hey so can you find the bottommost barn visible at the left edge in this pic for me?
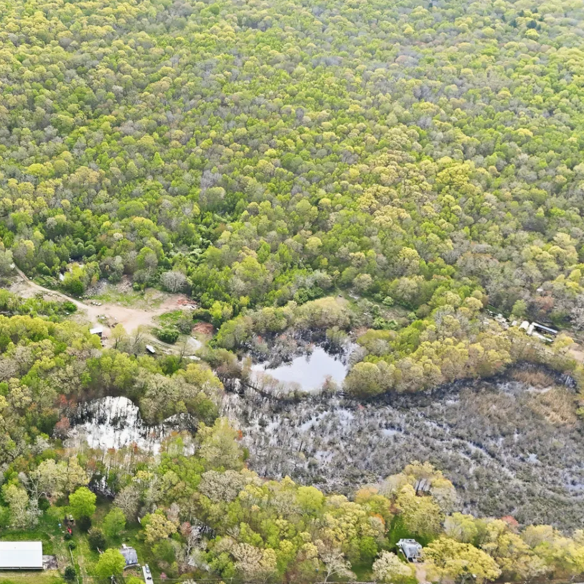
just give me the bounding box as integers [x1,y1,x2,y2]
[0,540,43,570]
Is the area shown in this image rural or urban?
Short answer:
rural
